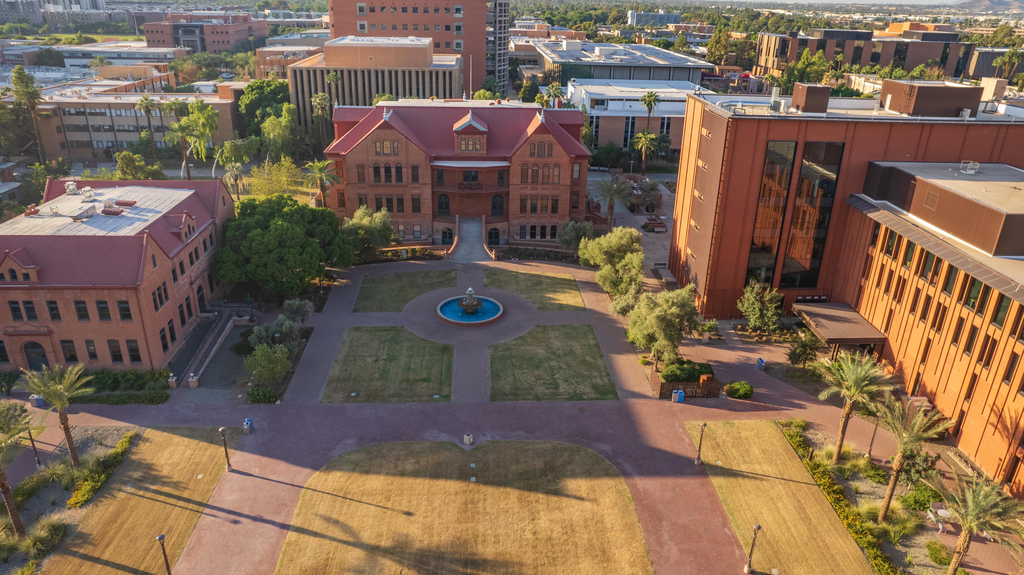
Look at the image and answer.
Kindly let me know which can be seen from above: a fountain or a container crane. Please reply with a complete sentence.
It is a fountain that can be seen here.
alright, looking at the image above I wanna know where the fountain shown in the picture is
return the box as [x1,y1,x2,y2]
[438,282,504,327]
